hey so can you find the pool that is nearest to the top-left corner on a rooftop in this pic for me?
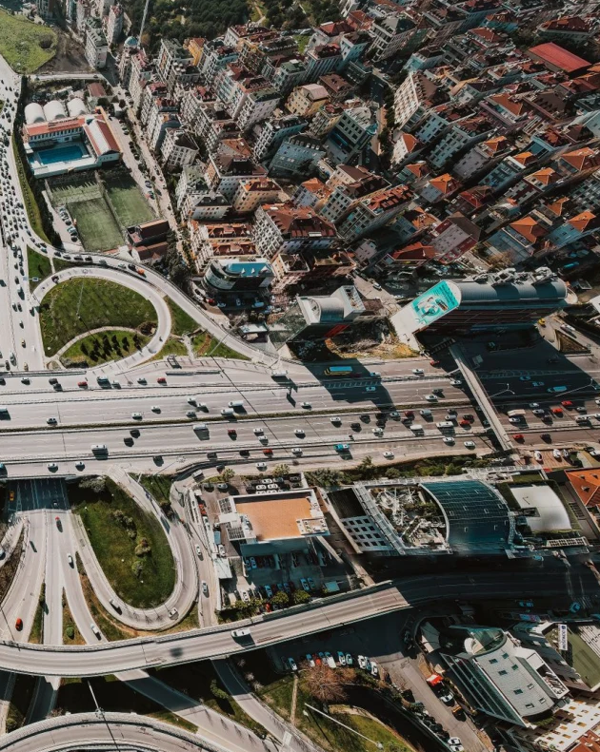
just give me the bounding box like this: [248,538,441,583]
[36,144,87,164]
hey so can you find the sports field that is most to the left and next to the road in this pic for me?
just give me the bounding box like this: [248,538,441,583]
[54,176,119,250]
